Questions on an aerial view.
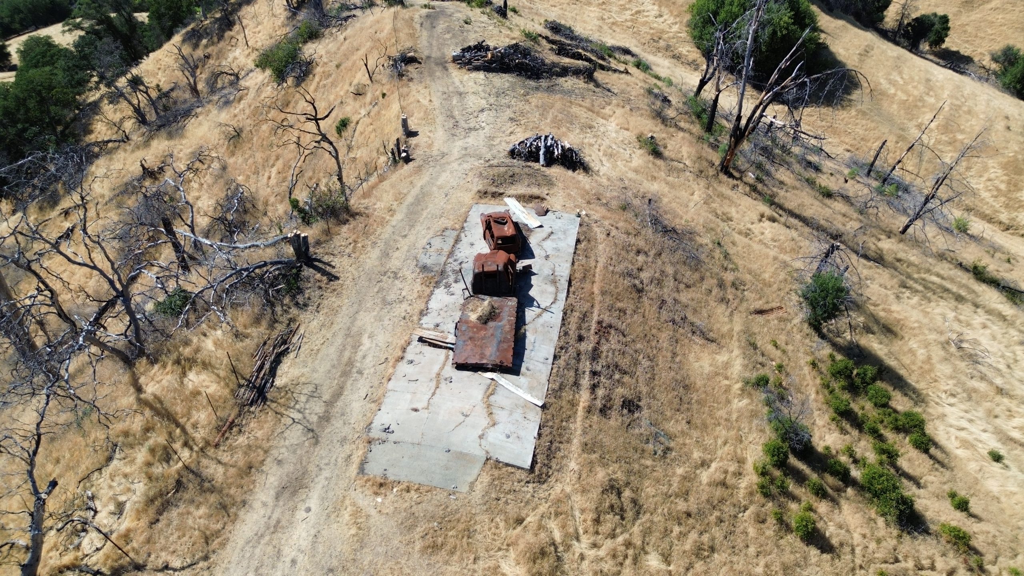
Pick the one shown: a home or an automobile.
automobile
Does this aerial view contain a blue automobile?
No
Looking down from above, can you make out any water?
No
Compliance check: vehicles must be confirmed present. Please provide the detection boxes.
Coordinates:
[450,251,518,371]
[477,204,518,252]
